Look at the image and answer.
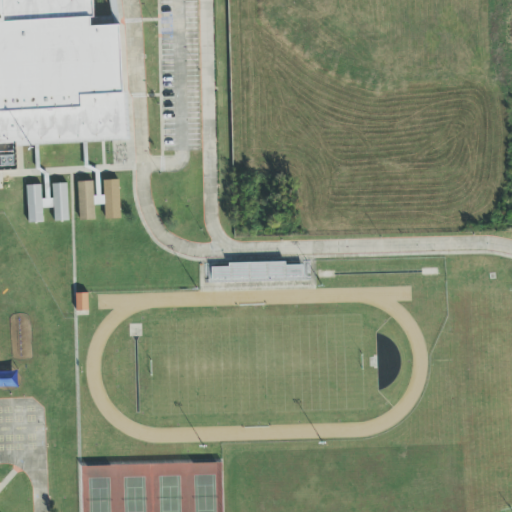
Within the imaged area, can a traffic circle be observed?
No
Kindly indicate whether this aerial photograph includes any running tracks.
Yes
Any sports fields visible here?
Yes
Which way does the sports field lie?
horizontally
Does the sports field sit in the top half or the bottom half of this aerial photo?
bottom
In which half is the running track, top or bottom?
bottom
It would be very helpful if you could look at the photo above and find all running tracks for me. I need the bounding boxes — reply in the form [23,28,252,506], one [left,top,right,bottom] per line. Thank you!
[86,286,428,443]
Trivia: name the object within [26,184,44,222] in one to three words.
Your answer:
building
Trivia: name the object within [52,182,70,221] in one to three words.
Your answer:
building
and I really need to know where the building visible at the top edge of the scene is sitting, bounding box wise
[0,0,126,147]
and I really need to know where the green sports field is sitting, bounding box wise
[150,314,364,416]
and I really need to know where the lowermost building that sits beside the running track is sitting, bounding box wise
[76,292,89,316]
